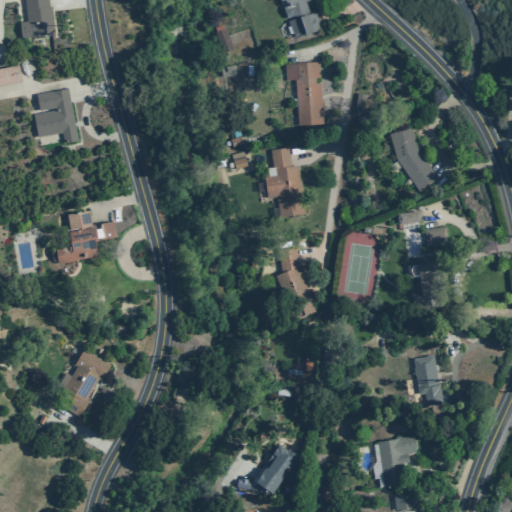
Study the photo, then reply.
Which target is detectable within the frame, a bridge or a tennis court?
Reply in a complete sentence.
There is a tennis court in the scene.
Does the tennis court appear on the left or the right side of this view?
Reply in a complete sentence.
The tennis court sits on the right side.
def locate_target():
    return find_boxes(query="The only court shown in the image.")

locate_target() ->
[338,232,376,301]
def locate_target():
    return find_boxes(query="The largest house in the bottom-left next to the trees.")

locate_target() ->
[60,352,110,420]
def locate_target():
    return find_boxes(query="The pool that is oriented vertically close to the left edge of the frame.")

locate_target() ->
[18,242,34,270]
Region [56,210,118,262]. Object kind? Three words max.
house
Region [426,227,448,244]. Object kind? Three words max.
building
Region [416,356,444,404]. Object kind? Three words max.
house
